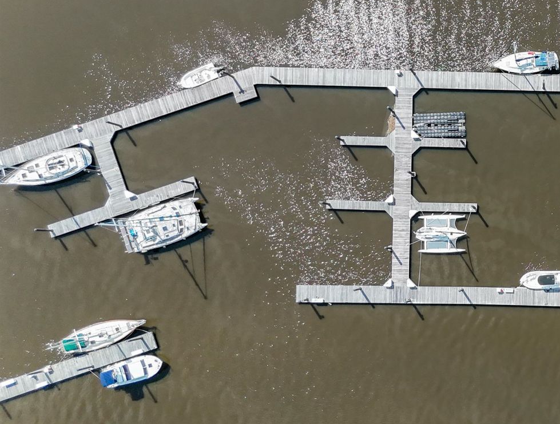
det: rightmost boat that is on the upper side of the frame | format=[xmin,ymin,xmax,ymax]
[493,42,560,73]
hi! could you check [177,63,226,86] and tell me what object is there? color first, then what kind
white boat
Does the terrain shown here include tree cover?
No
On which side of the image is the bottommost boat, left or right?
left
